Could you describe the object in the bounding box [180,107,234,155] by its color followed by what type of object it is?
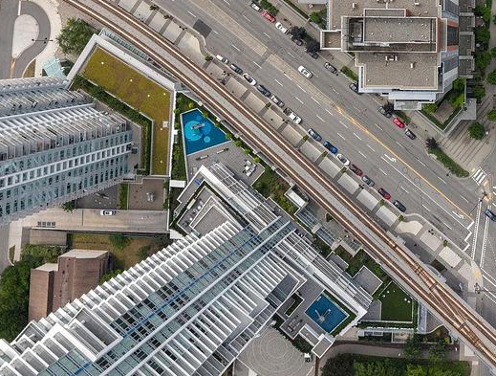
blue swimming pool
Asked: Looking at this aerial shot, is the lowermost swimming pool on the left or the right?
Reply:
right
